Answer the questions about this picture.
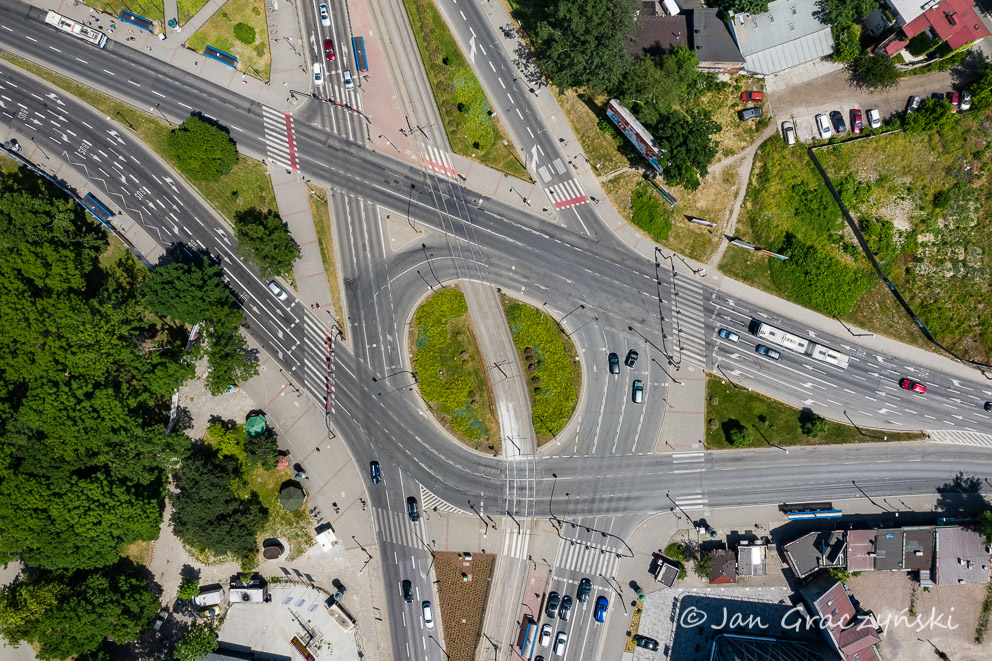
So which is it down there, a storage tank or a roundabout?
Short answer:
roundabout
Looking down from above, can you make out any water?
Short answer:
No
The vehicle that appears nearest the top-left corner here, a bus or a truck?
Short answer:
bus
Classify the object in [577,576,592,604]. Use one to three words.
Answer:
car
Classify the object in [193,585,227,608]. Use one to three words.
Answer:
vehicle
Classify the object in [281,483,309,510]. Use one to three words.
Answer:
gazebo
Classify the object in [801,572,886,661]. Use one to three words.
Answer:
house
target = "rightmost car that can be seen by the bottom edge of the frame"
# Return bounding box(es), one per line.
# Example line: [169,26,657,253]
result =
[634,632,662,652]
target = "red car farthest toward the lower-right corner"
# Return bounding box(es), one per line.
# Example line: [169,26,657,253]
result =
[896,377,926,394]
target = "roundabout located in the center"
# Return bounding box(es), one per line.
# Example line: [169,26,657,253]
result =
[406,279,586,458]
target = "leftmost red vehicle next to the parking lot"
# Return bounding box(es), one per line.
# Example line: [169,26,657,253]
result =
[741,90,763,103]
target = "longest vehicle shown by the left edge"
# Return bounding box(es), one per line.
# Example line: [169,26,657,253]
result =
[40,3,113,54]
